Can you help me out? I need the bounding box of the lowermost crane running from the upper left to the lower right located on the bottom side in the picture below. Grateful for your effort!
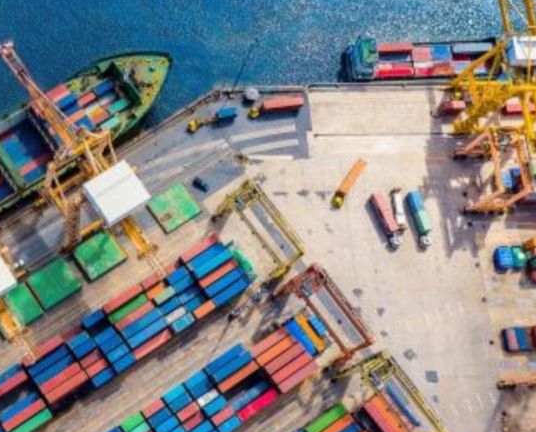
[326,352,456,432]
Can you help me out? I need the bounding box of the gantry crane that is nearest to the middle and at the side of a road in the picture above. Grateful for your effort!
[204,179,312,288]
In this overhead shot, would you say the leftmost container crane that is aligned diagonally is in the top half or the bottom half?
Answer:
top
